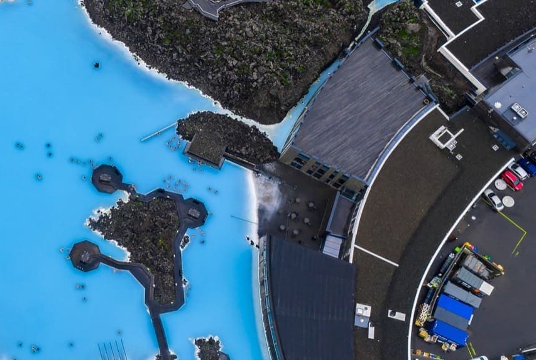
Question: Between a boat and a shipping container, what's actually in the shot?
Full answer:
Looking from above, you can make out a shipping container.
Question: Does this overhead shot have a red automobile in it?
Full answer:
Yes, you can see a red automobile in this photo.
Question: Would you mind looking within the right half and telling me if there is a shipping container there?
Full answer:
Yes, a shipping container can be seen within the right half.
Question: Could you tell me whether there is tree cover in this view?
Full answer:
No, the picture contains no tree cover.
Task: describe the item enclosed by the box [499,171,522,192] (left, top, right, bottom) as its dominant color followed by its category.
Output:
red car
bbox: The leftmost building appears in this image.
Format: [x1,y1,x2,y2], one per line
[184,129,225,165]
